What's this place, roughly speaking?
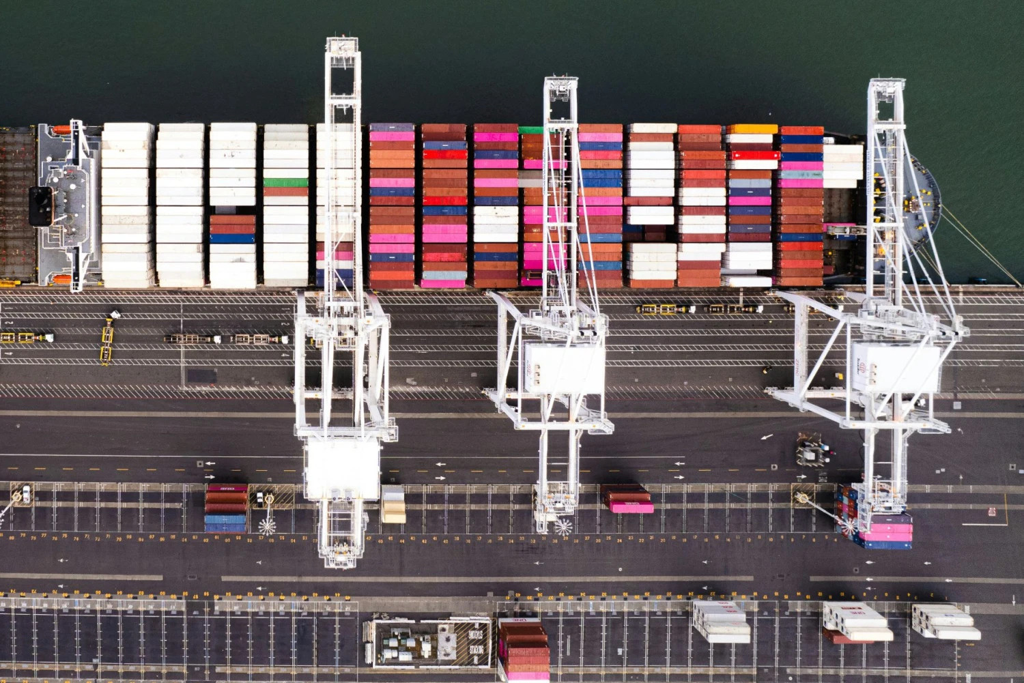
port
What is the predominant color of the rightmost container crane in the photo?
white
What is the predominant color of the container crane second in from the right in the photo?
white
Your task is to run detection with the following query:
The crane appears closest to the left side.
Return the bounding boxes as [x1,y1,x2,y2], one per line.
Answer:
[287,36,410,565]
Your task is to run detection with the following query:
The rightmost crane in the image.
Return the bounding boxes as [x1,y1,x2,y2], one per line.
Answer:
[766,76,970,536]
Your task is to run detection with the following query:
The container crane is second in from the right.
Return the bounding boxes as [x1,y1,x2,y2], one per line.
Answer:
[480,76,624,536]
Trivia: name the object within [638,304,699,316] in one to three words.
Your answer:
vehicle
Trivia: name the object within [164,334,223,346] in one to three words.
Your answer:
vehicle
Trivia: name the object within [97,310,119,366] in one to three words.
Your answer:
truck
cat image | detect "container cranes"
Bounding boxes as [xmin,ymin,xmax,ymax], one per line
[480,76,624,536]
[766,76,970,536]
[287,36,410,565]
